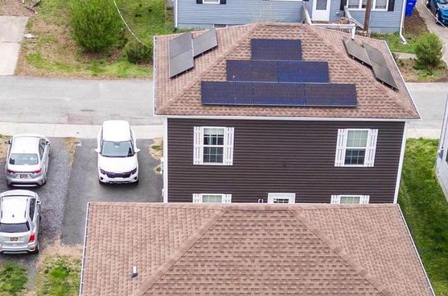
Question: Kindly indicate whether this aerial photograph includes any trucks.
No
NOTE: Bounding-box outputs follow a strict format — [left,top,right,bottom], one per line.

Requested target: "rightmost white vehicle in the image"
[97,113,144,177]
